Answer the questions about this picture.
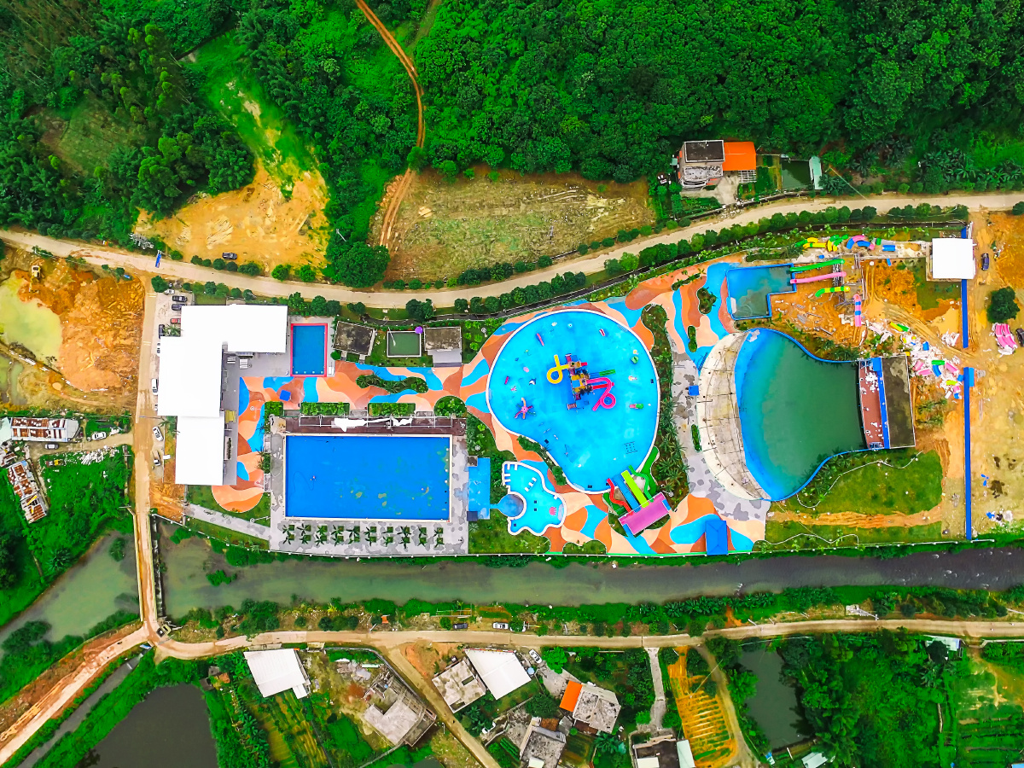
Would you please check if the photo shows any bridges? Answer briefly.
Yes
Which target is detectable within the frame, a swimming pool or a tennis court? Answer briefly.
swimming pool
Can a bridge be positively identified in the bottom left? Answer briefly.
Yes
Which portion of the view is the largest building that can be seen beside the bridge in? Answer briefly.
left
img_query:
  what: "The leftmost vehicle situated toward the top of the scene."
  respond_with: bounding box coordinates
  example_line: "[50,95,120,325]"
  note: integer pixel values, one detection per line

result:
[22,262,41,296]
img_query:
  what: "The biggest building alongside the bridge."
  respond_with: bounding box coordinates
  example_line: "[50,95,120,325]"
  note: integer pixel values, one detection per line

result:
[158,305,292,486]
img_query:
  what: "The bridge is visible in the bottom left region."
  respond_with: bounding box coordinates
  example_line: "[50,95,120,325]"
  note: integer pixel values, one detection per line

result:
[127,507,159,621]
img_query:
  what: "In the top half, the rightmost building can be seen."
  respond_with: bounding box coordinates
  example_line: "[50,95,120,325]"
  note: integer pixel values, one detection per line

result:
[926,238,975,281]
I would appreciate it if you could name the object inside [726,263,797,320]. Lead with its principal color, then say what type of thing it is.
blue swimming pool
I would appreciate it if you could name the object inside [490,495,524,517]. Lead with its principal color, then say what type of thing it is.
blue swimming pool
